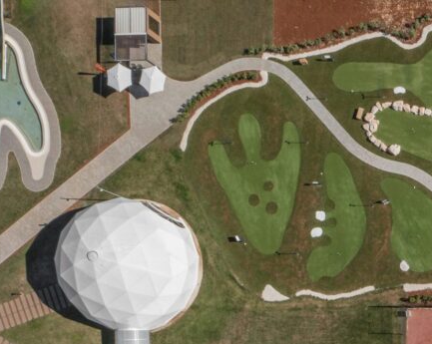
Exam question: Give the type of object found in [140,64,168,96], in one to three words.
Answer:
umbrella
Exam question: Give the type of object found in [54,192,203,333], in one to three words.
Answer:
building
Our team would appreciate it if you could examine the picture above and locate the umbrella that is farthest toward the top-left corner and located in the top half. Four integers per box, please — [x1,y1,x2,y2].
[107,63,135,93]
